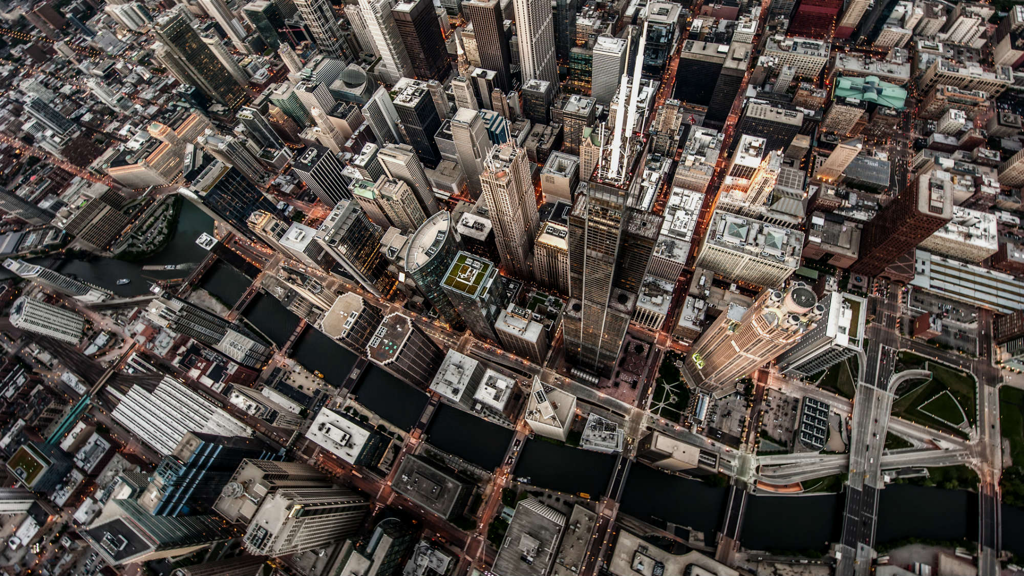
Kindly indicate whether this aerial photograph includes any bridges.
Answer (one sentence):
Yes, the photo shows a bridge.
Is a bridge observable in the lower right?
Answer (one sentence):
Yes, a bridge shows up in the lower right.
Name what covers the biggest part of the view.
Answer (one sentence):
Most of the picture is covered by buildings.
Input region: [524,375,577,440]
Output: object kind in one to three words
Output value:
building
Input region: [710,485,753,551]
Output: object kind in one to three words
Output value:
bridge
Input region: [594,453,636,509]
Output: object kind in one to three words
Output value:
bridge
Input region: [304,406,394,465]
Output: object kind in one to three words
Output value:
building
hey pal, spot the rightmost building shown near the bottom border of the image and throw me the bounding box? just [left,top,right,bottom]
[931,542,980,576]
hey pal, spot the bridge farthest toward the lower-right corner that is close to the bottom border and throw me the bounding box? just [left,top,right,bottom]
[965,489,1004,553]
